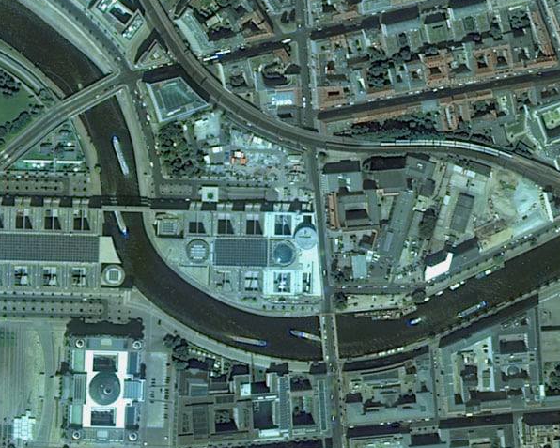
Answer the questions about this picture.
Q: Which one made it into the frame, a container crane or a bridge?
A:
bridge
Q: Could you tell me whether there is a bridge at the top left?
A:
Yes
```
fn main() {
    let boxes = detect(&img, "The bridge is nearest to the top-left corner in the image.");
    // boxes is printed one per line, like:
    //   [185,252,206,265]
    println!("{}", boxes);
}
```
[54,68,126,121]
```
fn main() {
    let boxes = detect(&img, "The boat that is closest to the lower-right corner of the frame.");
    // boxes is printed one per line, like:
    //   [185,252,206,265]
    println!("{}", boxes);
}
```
[457,303,486,319]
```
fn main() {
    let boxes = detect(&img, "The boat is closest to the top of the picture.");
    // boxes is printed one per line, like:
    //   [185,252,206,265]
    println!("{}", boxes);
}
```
[113,138,128,175]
